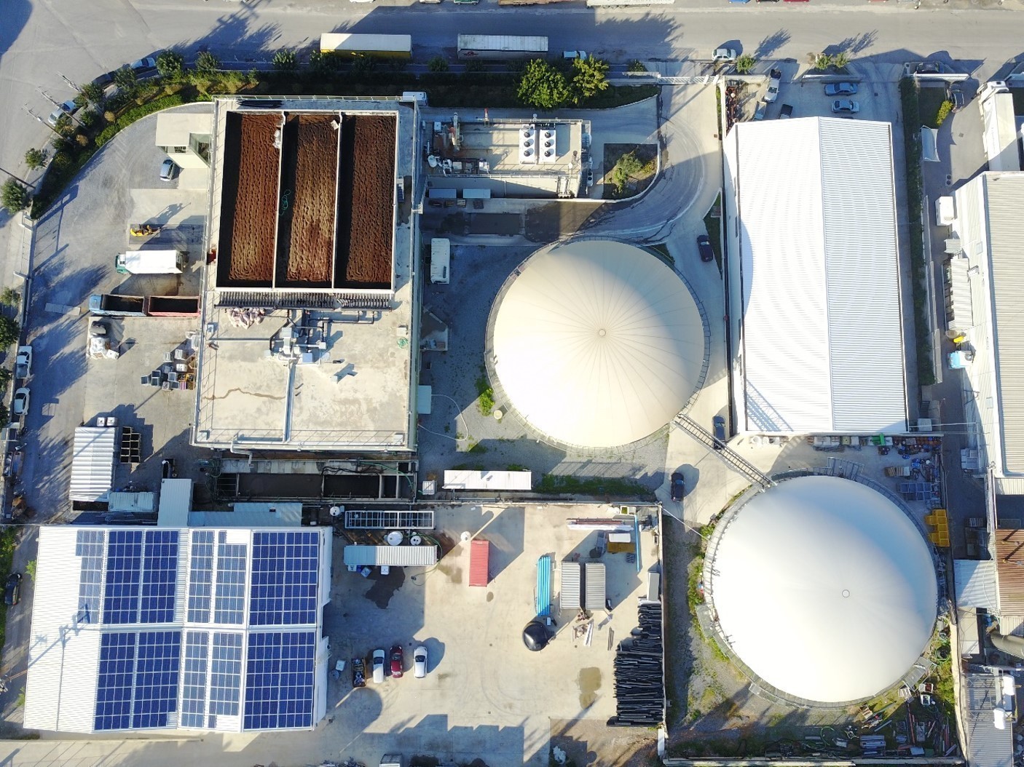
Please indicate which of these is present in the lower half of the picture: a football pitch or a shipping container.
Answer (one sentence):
You can see a shipping container in the lower half of the picture.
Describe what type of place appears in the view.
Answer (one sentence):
The picture captures an industrial area.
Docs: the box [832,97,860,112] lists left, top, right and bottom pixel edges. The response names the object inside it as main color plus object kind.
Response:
blue car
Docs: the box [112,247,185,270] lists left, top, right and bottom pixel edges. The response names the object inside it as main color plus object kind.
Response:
white truck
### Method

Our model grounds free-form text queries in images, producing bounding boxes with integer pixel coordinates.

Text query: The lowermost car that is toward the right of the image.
[671,471,687,501]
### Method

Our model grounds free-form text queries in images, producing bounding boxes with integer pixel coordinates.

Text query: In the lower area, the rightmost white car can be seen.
[411,647,427,680]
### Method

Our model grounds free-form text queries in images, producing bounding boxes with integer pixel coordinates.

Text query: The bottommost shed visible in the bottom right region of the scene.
[959,715,1013,767]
